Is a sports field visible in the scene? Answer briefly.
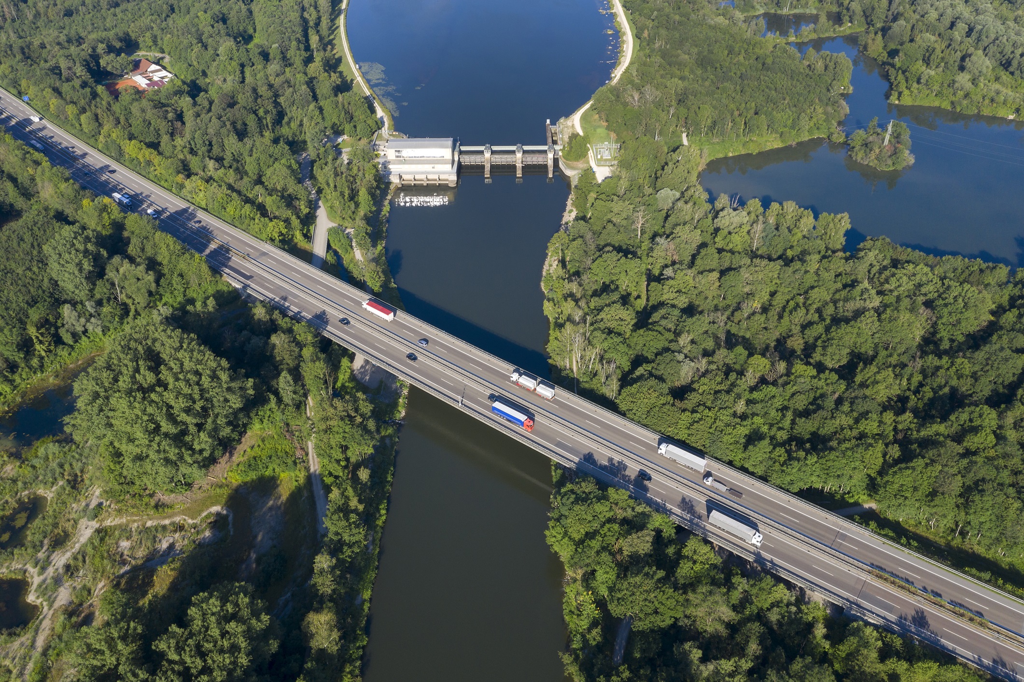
No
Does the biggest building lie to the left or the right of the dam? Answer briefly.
on its left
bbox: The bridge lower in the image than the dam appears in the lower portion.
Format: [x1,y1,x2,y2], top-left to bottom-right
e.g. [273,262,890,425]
[229,252,874,604]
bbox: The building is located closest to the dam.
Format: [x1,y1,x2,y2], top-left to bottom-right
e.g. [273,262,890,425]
[371,135,461,186]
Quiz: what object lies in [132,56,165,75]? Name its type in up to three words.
house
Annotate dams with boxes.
[460,121,562,178]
